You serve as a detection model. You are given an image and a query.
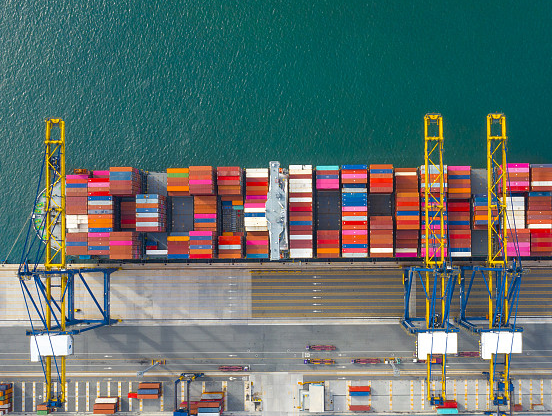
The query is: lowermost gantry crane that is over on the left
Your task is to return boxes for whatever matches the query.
[174,374,203,416]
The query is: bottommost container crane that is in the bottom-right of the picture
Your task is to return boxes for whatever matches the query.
[485,372,515,416]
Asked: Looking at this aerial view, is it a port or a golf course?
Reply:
port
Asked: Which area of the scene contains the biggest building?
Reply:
bottom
